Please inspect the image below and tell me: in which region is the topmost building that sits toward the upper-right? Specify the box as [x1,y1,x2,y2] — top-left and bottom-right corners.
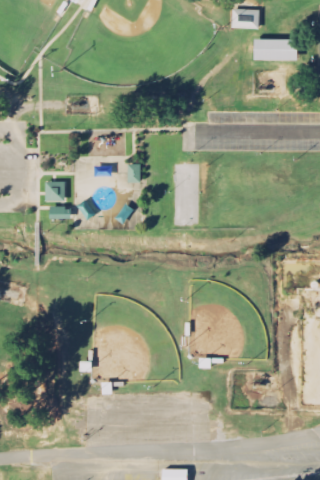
[232,9,260,28]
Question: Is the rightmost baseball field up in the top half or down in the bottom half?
bottom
